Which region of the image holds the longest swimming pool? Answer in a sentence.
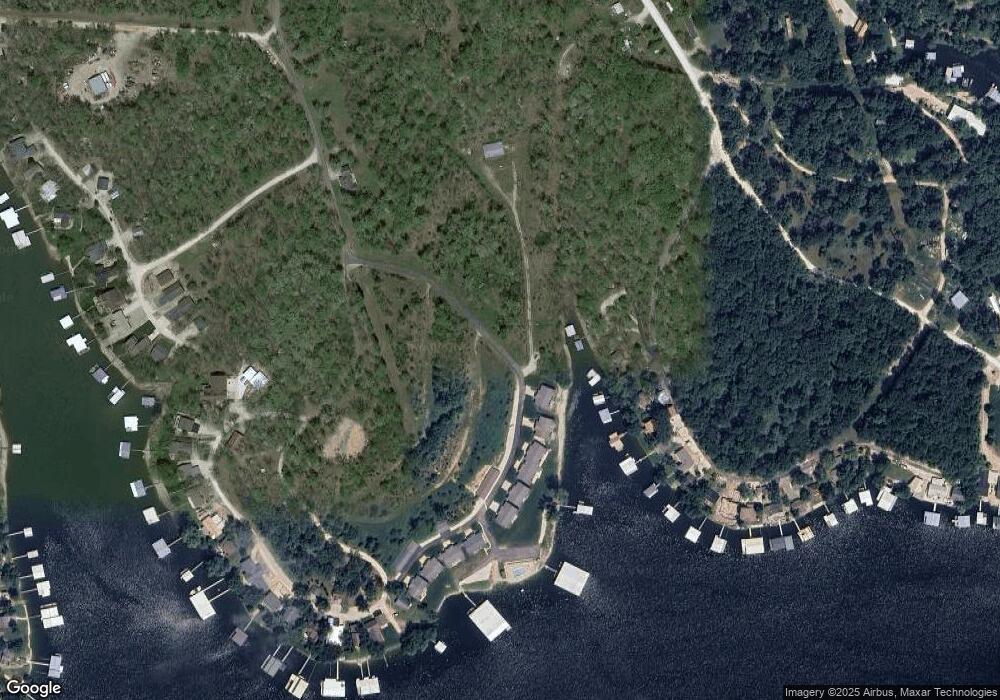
You can find the longest swimming pool in the bottom area of the picture.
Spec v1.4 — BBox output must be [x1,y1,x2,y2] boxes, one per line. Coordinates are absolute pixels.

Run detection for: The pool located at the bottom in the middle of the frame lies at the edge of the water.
[506,558,539,580]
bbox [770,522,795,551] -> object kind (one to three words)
pier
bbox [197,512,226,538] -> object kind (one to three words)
house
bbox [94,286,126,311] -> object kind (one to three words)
house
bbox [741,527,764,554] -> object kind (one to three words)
pier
